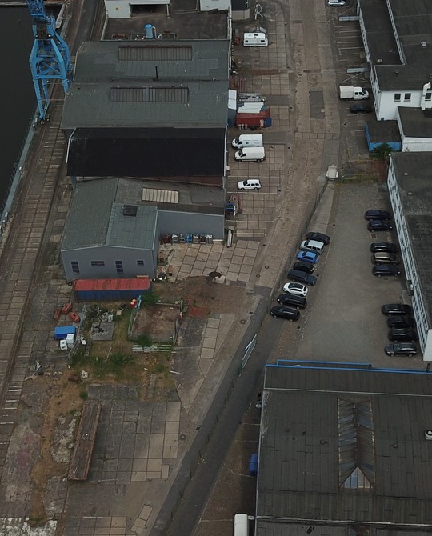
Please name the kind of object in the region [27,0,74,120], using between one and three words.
crane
